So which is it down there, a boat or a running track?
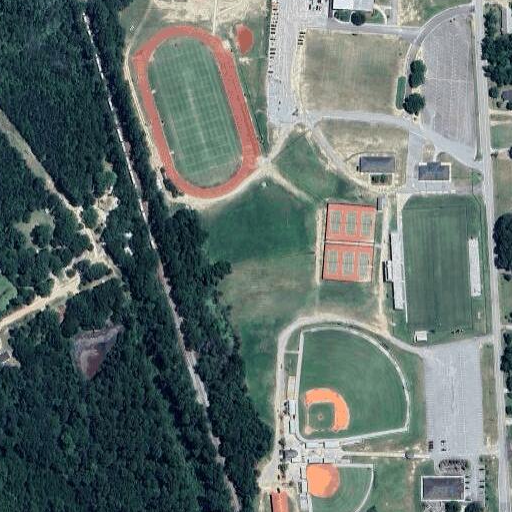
running track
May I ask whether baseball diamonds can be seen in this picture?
Yes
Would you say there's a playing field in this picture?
Yes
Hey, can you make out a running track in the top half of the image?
Yes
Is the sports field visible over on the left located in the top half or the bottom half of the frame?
top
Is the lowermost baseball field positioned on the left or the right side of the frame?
right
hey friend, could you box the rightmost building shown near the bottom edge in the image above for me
[421,475,465,501]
